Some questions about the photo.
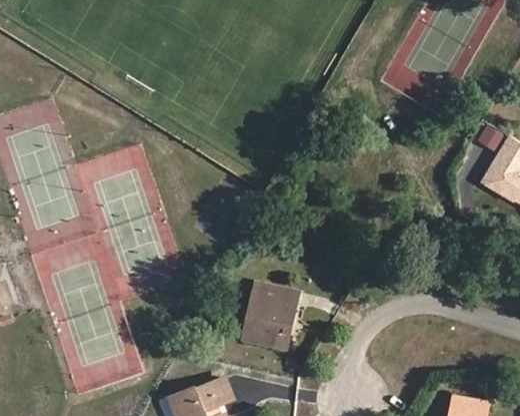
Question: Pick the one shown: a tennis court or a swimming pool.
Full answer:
It is a tennis court that can be seen here.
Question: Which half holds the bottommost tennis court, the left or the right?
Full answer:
The bottommost tennis court sits on the left side.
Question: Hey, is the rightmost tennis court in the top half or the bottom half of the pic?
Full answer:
Seen from above, the rightmost tennis court lies in the top half of the view.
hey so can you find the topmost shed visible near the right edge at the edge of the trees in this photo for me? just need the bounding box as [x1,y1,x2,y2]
[478,125,504,152]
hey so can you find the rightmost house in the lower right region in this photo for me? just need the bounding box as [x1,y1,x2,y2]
[449,394,490,416]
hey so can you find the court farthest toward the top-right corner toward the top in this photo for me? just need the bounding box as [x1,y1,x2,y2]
[381,0,507,114]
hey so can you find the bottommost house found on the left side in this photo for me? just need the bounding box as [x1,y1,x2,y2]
[166,377,240,416]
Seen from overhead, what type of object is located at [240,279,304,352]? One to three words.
house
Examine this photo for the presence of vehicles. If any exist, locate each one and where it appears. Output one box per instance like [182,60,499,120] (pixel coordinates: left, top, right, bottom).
[388,395,406,407]
[381,113,397,130]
